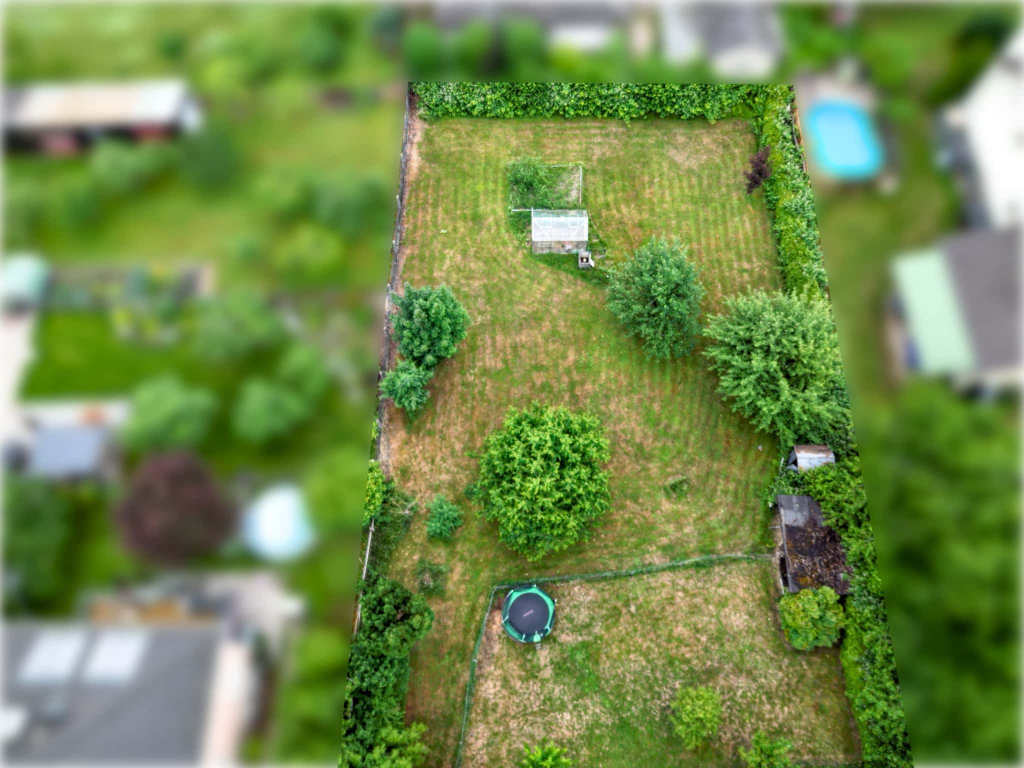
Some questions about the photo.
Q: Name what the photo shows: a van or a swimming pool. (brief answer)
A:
swimming pool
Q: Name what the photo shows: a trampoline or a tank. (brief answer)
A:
trampoline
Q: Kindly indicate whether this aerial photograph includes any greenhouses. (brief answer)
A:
Yes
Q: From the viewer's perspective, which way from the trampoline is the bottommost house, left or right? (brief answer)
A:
on its left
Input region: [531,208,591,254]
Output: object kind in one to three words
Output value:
greenhouse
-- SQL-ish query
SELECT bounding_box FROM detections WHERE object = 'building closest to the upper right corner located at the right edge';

[919,29,1024,237]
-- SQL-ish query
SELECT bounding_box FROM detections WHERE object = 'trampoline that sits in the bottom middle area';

[501,585,556,645]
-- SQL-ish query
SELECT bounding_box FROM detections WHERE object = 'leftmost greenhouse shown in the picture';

[0,261,57,314]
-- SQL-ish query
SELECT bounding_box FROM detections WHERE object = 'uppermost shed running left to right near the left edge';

[0,82,185,151]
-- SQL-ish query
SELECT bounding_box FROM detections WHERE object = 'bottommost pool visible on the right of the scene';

[804,106,882,182]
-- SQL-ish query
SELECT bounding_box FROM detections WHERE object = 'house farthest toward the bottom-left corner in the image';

[0,624,252,768]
